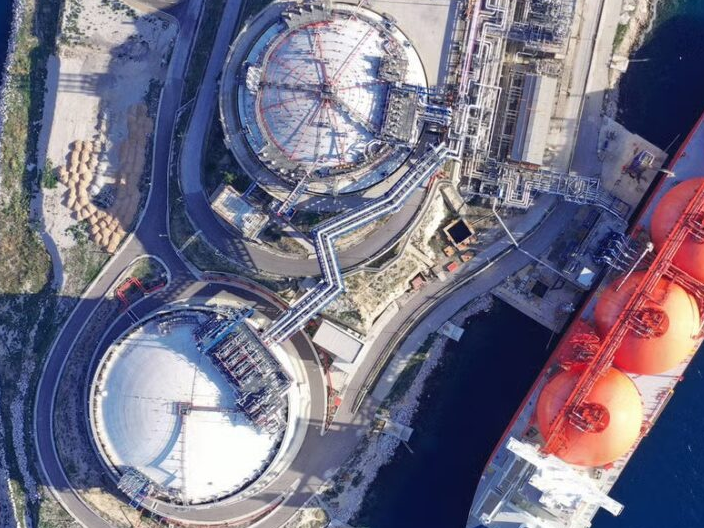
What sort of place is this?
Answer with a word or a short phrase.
industrial area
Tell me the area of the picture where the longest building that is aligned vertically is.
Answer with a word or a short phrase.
top right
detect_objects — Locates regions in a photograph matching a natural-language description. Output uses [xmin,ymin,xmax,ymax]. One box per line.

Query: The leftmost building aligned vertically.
[511,73,558,167]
